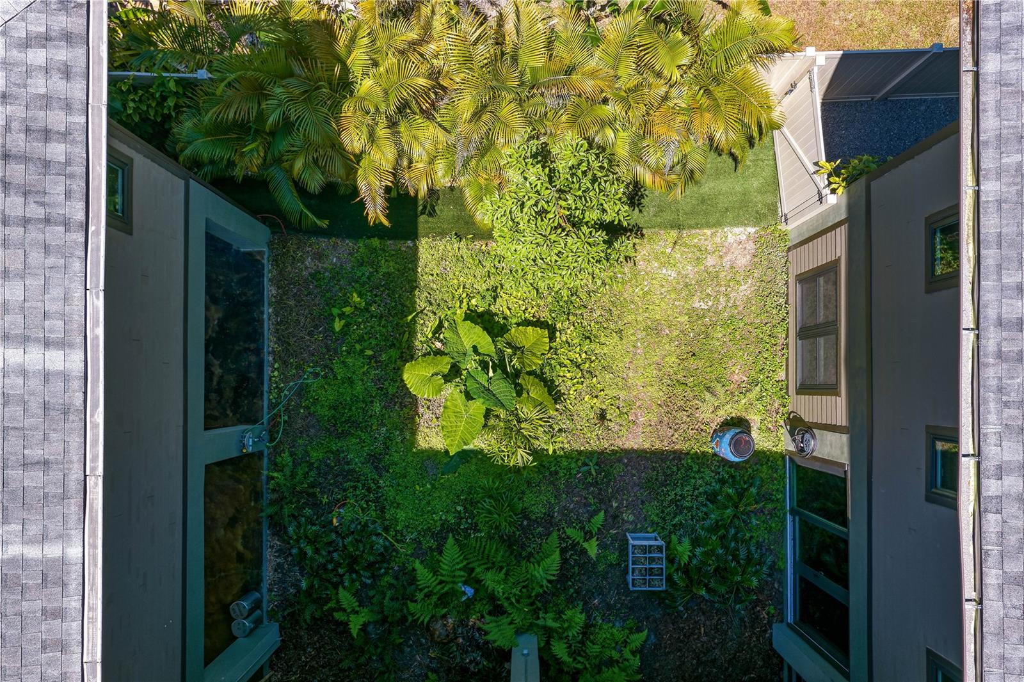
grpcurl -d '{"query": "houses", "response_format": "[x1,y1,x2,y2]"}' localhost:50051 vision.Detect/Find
[776,0,1024,682]
[0,0,279,682]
